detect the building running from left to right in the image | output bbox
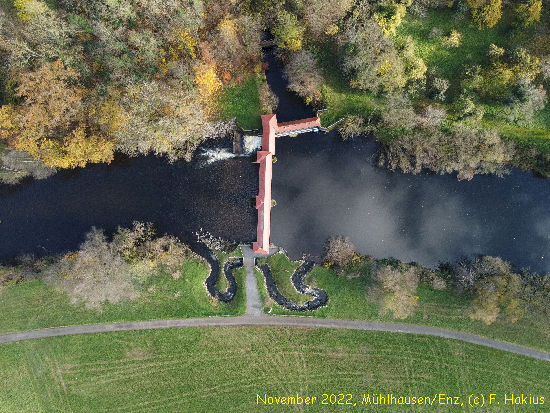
[274,112,321,137]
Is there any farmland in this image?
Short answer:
No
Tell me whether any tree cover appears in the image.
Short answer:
Yes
